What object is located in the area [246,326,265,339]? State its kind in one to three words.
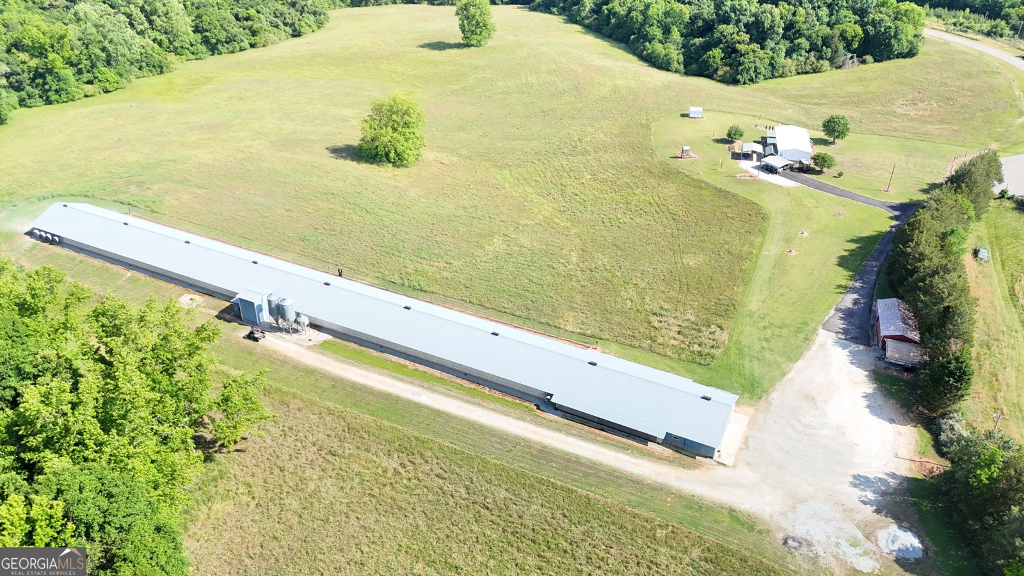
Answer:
vehicle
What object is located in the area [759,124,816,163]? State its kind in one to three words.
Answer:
house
